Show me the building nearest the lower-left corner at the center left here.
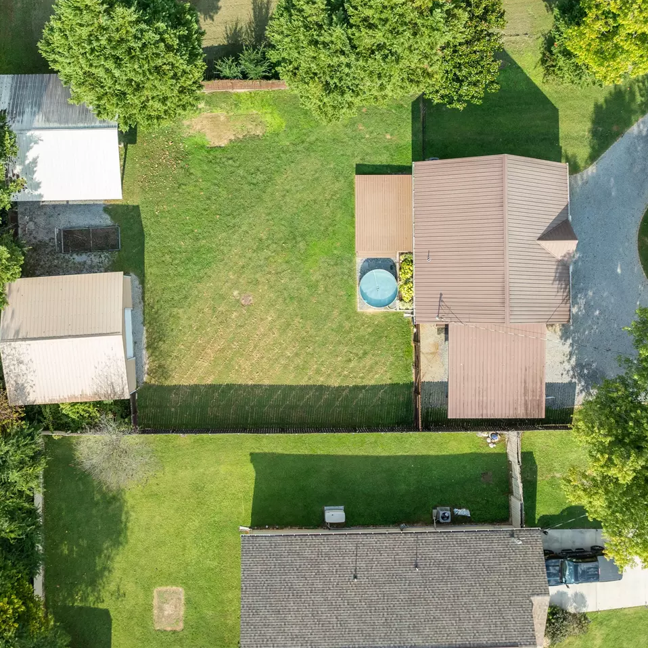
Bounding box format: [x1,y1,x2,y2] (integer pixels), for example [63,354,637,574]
[3,273,138,405]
